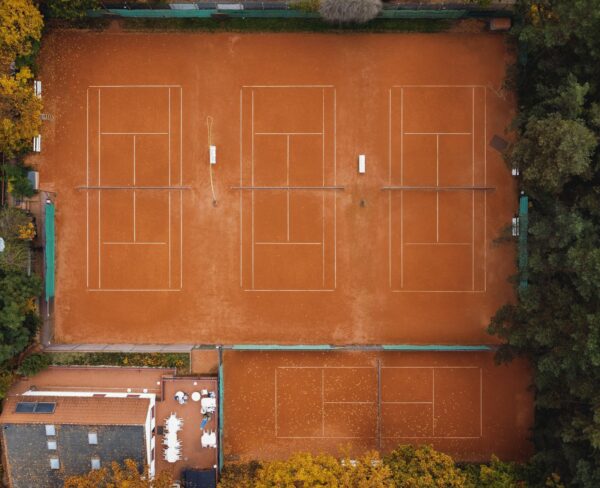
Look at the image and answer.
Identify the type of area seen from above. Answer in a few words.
sports ground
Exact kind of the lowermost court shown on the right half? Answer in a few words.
tennis court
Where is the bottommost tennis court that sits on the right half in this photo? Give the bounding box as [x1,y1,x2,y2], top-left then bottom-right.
[275,367,482,438]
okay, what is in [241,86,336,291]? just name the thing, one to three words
tennis court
